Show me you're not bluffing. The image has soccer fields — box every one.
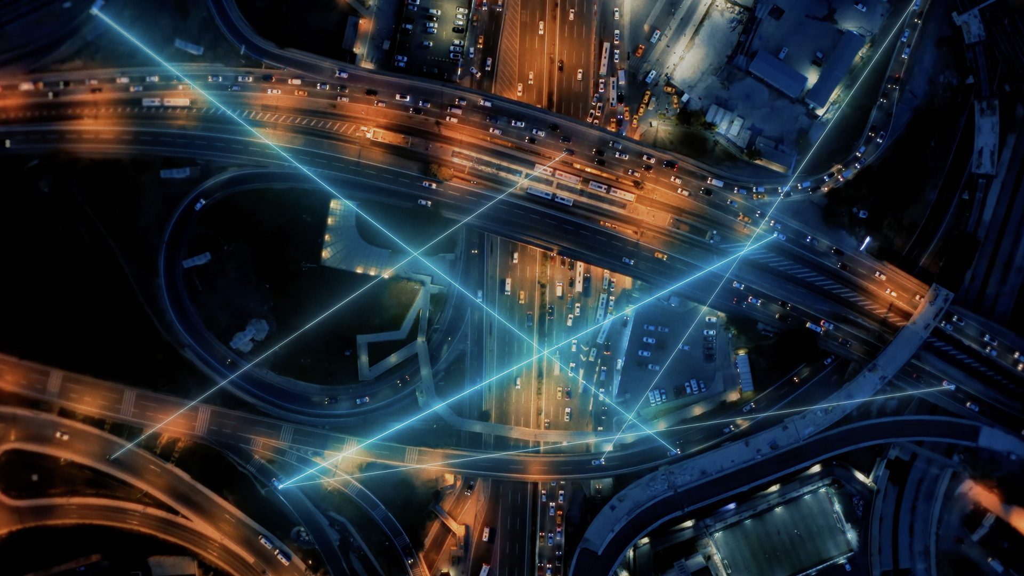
[713,492,855,576]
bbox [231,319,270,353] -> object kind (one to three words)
building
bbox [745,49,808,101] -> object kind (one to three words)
building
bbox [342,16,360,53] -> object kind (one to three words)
shed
